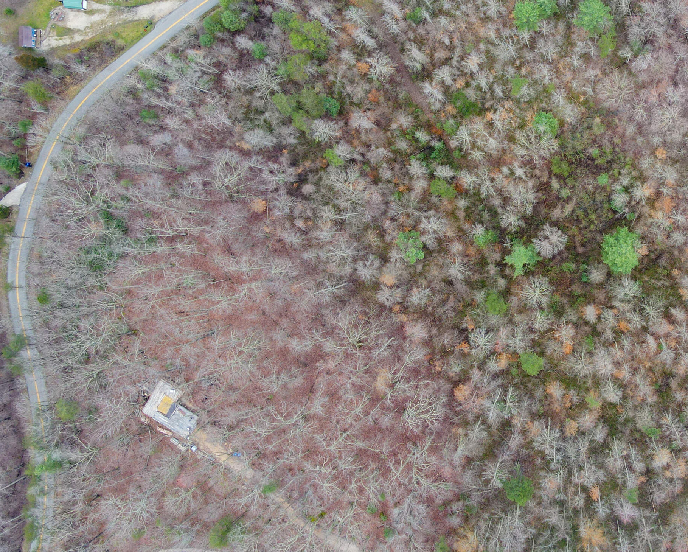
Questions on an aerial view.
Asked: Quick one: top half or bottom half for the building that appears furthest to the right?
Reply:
bottom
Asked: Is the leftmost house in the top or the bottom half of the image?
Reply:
top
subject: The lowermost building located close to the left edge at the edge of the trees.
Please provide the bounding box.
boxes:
[17,24,44,49]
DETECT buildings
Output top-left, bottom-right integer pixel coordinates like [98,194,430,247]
[142,382,198,438]
[61,0,93,12]
[17,24,44,49]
